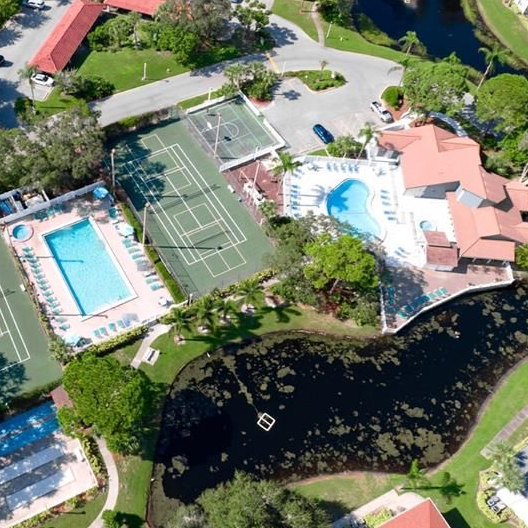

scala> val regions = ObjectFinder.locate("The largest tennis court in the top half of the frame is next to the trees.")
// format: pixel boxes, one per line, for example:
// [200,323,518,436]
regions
[100,118,279,295]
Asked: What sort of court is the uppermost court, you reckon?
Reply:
basketball court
